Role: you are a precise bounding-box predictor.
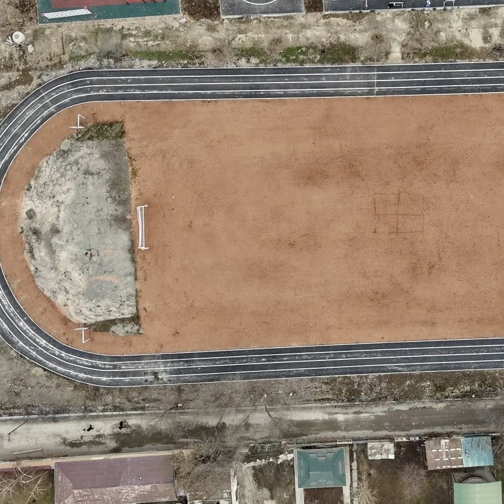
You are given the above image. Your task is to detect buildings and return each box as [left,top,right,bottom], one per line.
[450,475,502,504]
[297,443,346,488]
[55,449,178,504]
[423,430,493,470]
[367,437,395,460]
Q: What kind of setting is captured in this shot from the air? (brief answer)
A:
sports ground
